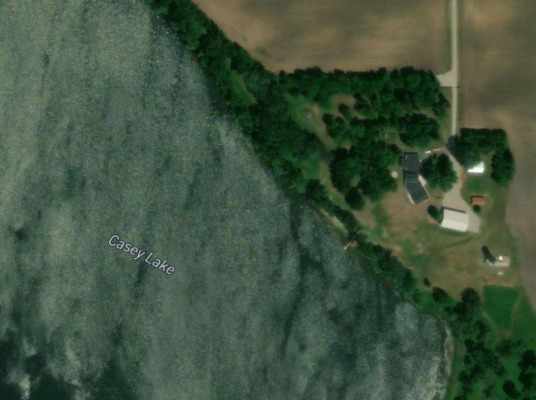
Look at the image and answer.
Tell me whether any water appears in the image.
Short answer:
Yes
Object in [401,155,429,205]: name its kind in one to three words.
house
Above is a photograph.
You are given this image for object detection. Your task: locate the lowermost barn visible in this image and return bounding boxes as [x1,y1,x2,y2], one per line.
[441,209,470,233]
